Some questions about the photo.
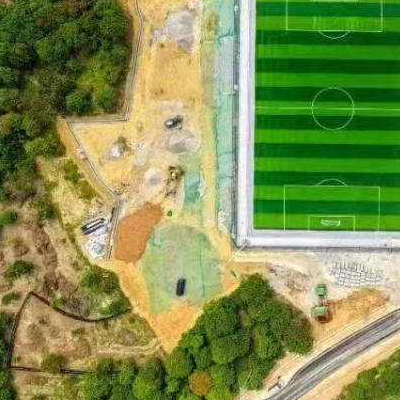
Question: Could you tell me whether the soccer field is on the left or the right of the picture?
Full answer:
The soccer field sits on the right side.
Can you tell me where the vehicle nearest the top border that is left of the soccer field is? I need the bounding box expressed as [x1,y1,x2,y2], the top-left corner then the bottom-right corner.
[164,115,182,128]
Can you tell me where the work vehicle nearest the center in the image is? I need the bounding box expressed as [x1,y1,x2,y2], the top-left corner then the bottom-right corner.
[165,167,179,191]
